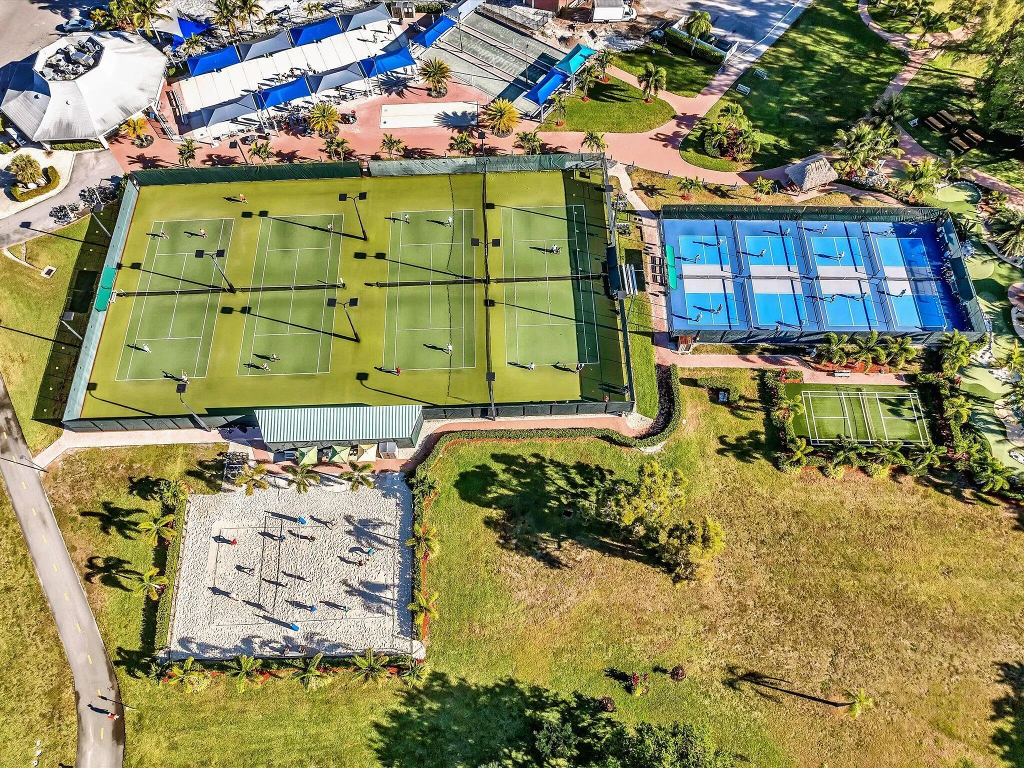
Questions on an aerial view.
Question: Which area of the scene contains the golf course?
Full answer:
The golf course appears toward the right of the photo.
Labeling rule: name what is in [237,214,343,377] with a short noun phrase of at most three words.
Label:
tennis court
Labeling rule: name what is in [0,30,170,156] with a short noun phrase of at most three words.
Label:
building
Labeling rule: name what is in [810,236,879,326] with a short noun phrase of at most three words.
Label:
sports court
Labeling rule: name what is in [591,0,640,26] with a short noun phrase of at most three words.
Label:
truck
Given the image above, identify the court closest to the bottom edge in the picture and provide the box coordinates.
[168,482,419,659]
